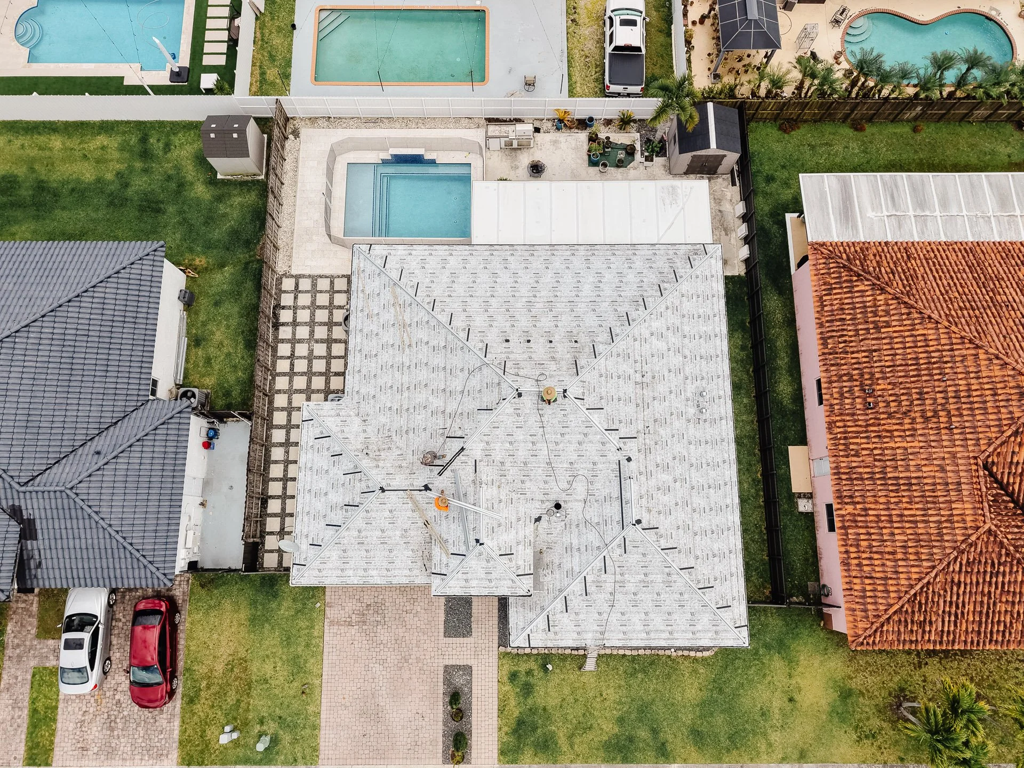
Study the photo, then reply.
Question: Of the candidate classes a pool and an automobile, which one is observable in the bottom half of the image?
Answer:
automobile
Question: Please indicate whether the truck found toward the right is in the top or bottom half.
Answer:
top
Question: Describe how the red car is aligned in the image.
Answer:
up and down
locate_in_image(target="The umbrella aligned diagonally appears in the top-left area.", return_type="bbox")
[153,37,189,82]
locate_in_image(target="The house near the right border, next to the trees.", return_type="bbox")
[796,238,1024,652]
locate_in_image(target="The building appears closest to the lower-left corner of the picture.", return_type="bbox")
[0,238,196,606]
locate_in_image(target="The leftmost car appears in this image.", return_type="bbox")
[51,588,113,695]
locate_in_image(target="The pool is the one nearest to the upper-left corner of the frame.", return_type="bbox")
[6,0,191,75]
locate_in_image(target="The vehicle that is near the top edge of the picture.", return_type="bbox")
[598,0,649,98]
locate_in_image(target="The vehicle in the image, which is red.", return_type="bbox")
[120,598,179,708]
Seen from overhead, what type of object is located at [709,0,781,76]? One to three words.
gazebo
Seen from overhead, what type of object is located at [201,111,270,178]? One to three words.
shed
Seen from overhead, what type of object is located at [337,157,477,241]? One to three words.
swimming pool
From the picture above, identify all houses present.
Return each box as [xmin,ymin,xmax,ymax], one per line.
[796,238,1024,652]
[0,238,196,606]
[290,244,749,648]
